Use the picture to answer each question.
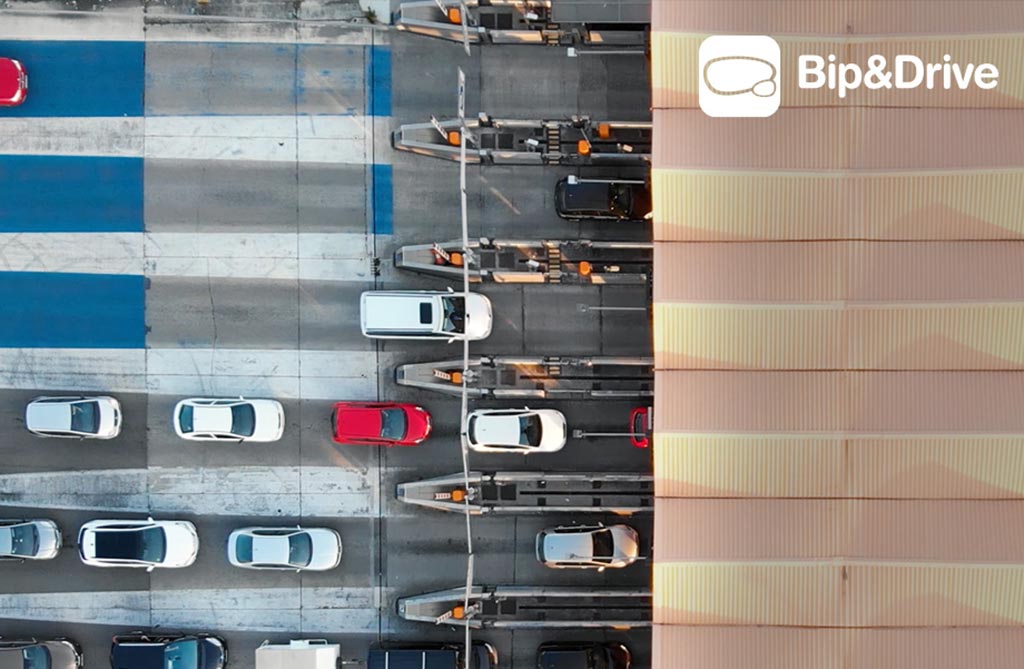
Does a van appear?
Yes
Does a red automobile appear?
Yes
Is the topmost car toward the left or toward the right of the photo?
left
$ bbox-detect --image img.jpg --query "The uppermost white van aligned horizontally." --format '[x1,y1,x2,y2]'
[360,288,492,343]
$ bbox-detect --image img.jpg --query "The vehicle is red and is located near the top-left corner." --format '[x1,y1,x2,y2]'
[0,61,30,106]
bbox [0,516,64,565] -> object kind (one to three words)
car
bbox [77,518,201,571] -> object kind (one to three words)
car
